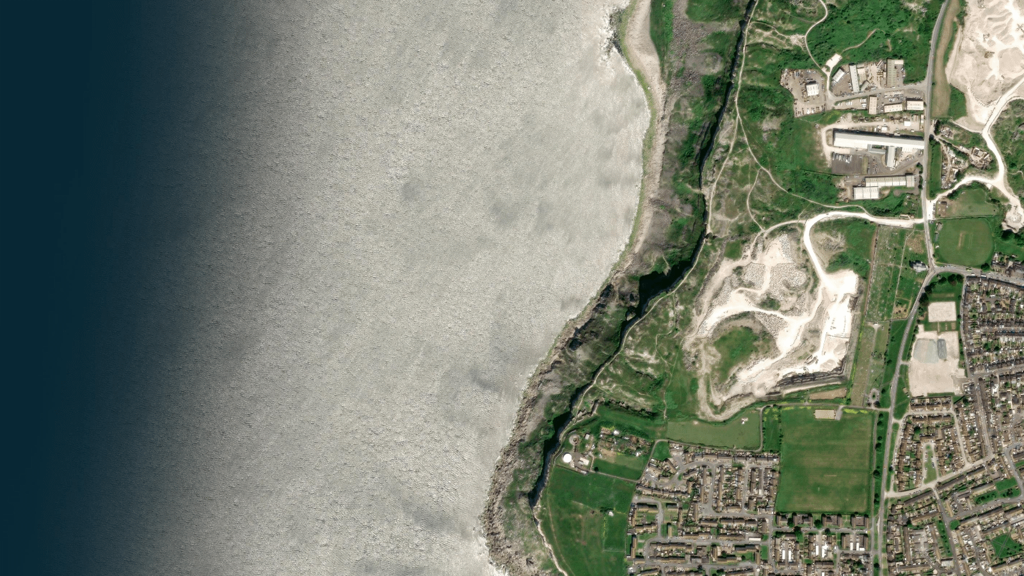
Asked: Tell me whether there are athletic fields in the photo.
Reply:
Yes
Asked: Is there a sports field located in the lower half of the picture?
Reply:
Yes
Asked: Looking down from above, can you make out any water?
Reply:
Yes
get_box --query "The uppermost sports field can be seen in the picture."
[935,217,995,267]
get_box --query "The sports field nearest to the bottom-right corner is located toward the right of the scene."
[776,407,873,514]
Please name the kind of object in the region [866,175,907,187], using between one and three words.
shed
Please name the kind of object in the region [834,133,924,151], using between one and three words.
shed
